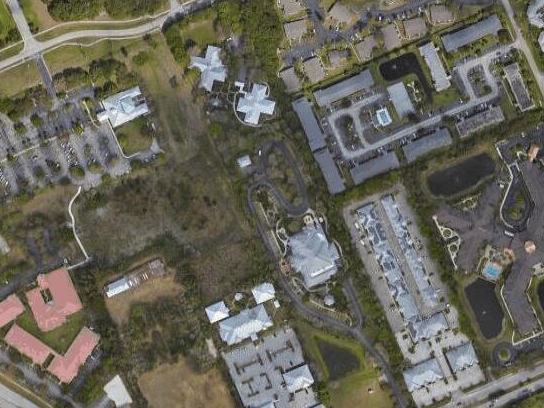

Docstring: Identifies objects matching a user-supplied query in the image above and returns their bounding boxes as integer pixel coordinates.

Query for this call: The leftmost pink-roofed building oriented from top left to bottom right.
[6,327,50,363]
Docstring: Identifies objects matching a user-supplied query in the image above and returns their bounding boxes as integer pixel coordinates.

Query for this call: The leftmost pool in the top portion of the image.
[377,108,391,126]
